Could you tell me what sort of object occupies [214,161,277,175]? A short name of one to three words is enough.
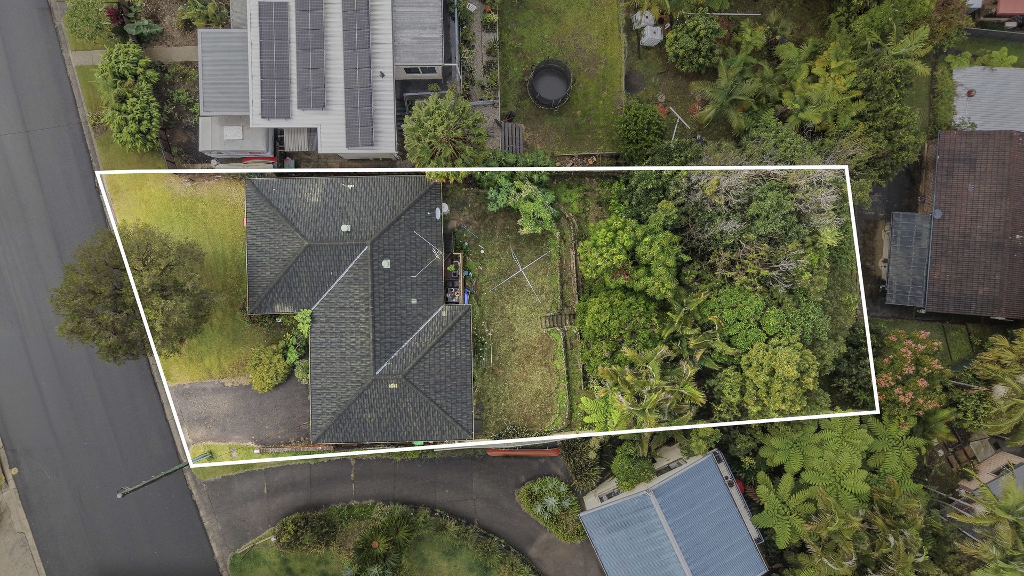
boat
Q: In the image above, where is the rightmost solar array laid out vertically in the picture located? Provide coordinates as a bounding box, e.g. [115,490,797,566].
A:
[342,0,373,150]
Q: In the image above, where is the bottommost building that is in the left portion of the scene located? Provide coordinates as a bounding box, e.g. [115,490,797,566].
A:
[243,174,475,446]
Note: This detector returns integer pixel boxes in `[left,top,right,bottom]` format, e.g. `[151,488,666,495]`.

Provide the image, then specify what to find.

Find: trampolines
[526,57,575,115]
